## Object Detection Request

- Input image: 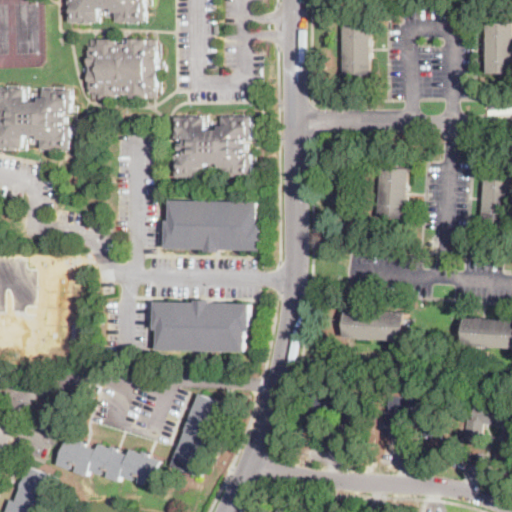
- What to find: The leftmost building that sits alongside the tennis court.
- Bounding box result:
[0,85,82,154]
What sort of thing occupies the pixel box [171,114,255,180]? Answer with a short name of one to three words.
building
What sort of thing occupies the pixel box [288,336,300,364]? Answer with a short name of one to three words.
vehicle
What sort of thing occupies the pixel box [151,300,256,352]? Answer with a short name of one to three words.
building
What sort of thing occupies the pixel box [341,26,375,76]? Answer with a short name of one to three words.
house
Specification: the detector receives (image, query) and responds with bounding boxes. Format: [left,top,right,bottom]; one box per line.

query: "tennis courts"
[0,0,45,67]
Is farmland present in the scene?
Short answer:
No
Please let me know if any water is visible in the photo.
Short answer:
No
